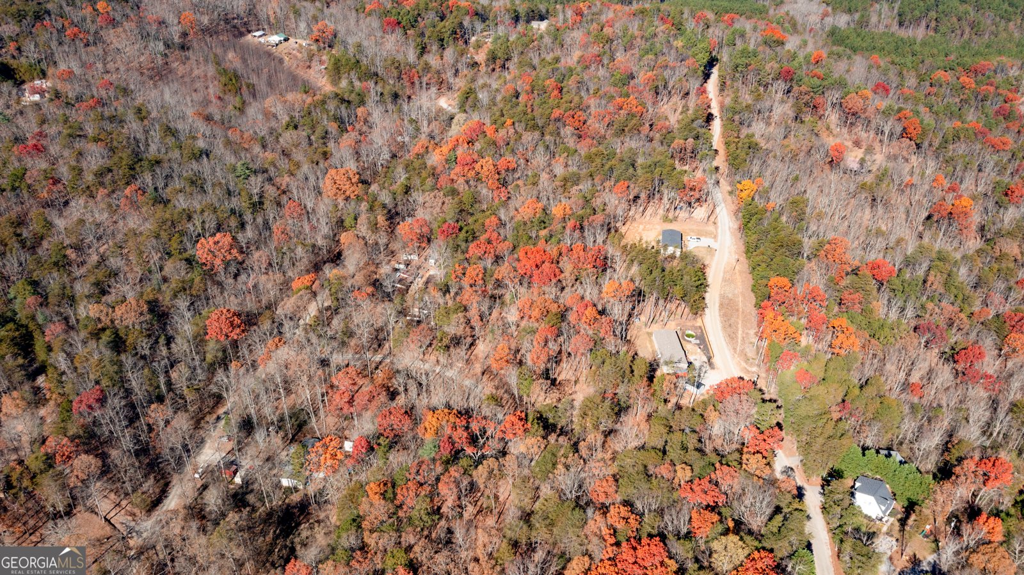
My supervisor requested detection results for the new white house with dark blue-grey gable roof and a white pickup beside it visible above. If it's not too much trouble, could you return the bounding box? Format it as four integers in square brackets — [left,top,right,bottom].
[654,229,681,254]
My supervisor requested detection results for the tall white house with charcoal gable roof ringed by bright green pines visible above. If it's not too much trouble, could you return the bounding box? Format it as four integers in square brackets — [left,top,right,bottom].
[854,477,897,535]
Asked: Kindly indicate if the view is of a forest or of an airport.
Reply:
forest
